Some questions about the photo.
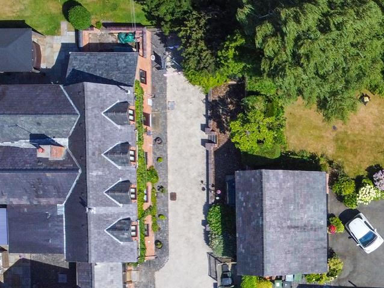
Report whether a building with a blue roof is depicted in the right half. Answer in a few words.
No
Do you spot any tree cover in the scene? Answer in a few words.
Yes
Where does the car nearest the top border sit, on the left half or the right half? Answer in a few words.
right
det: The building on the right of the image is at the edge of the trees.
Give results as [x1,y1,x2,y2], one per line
[235,169,331,277]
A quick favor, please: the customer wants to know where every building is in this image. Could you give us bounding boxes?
[0,52,160,288]
[235,169,331,277]
[0,28,44,77]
